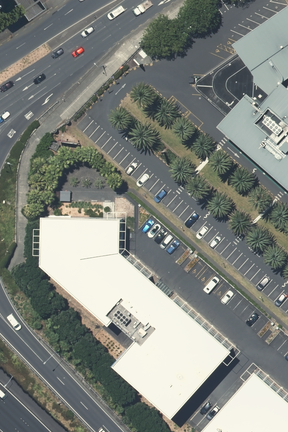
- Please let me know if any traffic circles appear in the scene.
No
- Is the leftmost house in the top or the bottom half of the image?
top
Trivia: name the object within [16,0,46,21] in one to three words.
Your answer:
house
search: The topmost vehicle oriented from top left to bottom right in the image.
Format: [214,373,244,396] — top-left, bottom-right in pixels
[6,313,21,329]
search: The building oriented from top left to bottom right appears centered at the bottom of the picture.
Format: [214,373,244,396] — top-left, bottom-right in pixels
[33,212,240,419]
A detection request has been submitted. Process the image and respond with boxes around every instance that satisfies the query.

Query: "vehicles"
[196,224,210,239]
[246,314,259,326]
[221,289,235,304]
[274,292,288,306]
[202,276,220,294]
[126,161,138,174]
[106,5,126,20]
[166,239,180,253]
[50,47,64,58]
[209,234,222,248]
[71,46,85,58]
[0,110,12,123]
[256,276,270,290]
[6,313,21,329]
[199,400,213,414]
[32,73,46,84]
[160,232,174,248]
[81,26,95,37]
[0,80,14,92]
[184,212,199,227]
[148,224,160,237]
[206,405,220,420]
[0,388,7,400]
[133,0,154,16]
[136,172,150,186]
[153,228,168,242]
